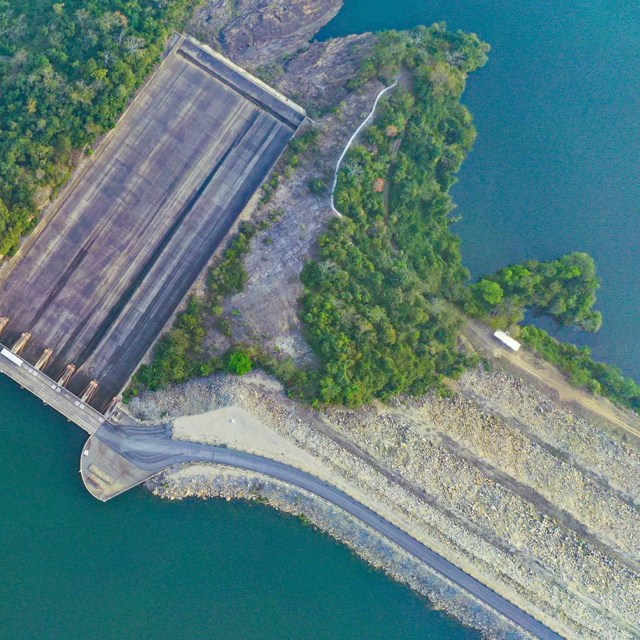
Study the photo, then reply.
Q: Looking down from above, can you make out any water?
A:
Yes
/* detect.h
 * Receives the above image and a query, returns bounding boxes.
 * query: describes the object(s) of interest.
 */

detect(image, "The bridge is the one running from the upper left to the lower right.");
[0,340,108,434]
